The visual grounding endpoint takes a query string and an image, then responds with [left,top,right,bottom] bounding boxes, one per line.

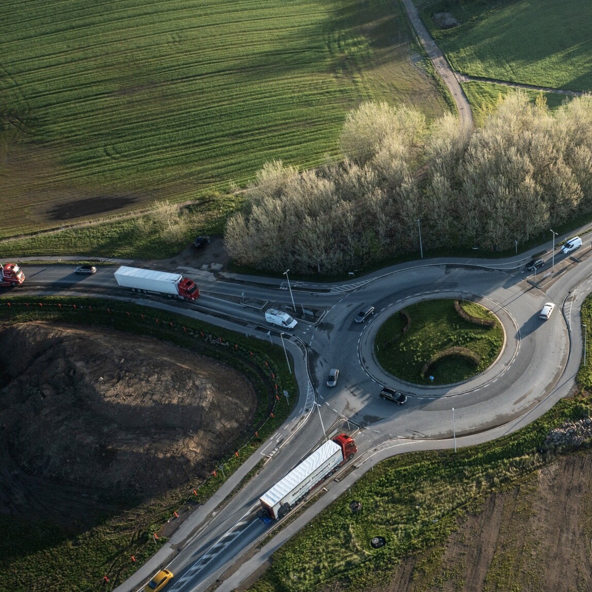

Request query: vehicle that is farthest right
[562,235,582,252]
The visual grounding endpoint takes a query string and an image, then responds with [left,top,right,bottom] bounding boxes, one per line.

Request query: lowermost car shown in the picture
[142,566,174,592]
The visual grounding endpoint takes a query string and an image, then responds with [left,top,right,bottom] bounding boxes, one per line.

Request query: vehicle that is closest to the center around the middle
[263,305,296,328]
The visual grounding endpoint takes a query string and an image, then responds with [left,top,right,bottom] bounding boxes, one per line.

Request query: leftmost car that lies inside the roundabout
[324,366,339,386]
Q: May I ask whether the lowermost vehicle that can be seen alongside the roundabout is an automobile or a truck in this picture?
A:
truck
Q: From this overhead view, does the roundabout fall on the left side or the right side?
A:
right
